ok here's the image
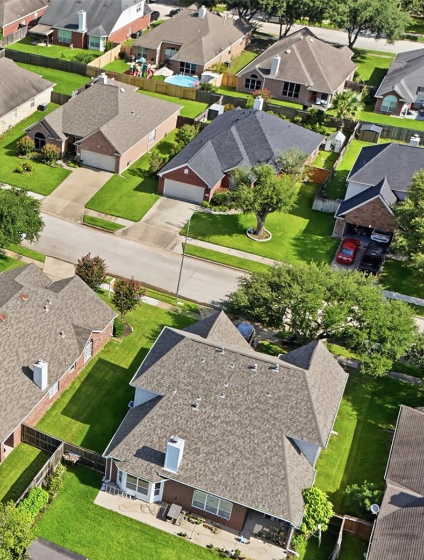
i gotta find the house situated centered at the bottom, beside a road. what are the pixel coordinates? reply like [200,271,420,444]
[100,307,351,560]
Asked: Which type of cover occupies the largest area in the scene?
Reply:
buildings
